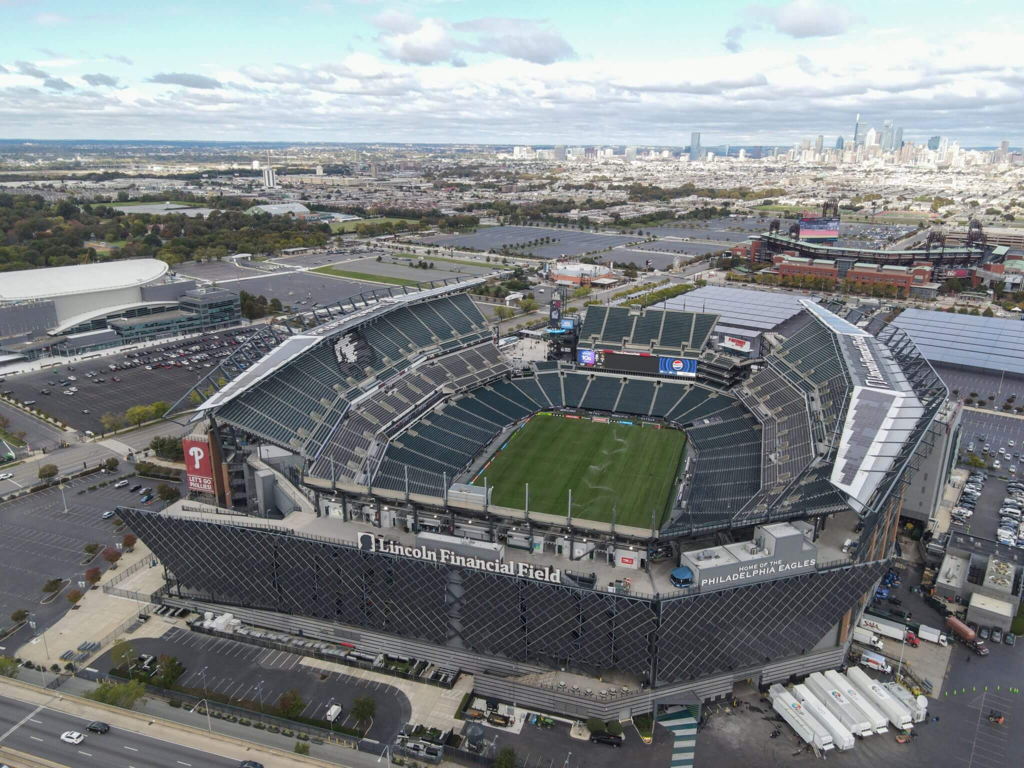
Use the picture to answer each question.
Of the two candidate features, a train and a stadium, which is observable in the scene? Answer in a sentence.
It is a stadium that can be seen here.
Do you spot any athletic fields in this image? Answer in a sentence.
Yes, looking at the shot, I can spot an athletic field.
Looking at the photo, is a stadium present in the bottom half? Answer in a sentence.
Yes, in the bottom half there is a stadium.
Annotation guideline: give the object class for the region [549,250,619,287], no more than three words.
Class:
building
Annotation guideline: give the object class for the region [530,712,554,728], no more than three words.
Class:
work vehicle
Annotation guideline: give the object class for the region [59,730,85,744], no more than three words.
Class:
car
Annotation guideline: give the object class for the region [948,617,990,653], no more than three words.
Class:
truck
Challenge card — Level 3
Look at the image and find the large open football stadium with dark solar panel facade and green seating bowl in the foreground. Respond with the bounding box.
[115,274,956,725]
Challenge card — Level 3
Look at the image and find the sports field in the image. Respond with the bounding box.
[481,415,686,525]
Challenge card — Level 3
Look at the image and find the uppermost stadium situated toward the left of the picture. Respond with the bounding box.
[0,258,241,363]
